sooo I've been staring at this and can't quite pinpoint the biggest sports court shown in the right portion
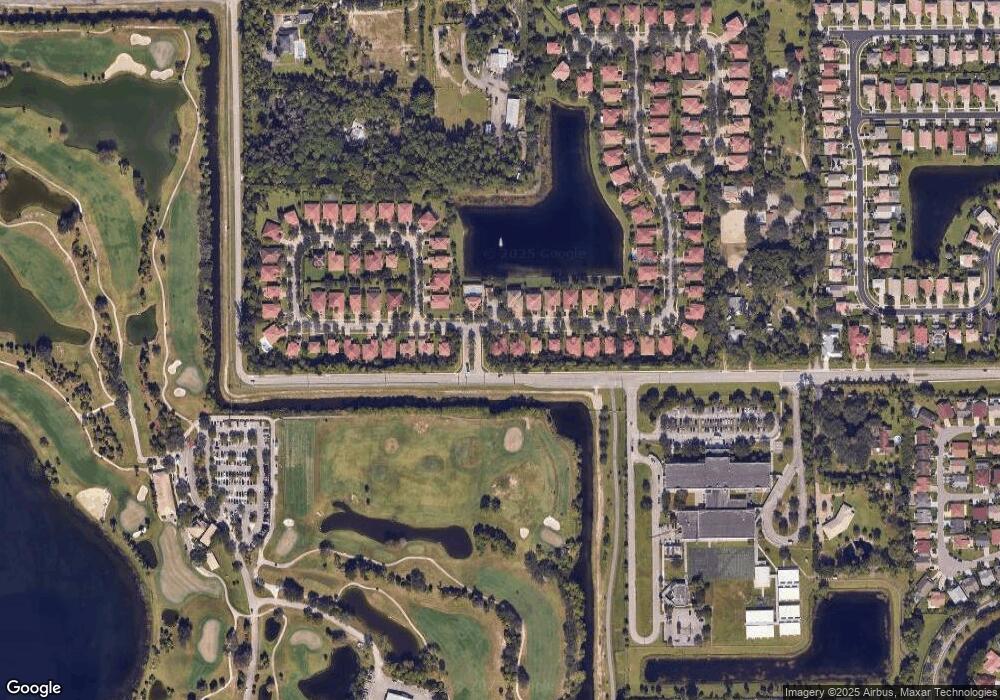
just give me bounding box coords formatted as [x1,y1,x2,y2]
[688,548,754,579]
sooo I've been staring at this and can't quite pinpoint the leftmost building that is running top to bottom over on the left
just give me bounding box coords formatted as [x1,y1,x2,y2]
[150,472,177,521]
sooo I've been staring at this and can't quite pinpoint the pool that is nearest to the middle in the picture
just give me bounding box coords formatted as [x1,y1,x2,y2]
[465,285,482,298]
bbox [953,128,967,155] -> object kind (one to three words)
house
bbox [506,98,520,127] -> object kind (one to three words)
shed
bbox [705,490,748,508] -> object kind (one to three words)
building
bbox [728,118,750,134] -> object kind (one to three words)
house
